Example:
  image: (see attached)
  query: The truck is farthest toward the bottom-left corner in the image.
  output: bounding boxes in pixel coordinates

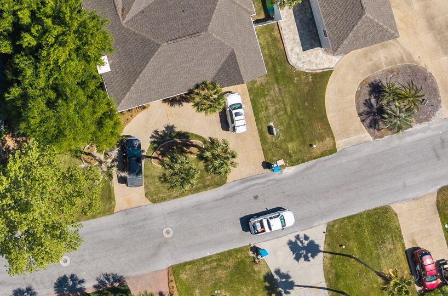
[123,135,145,187]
